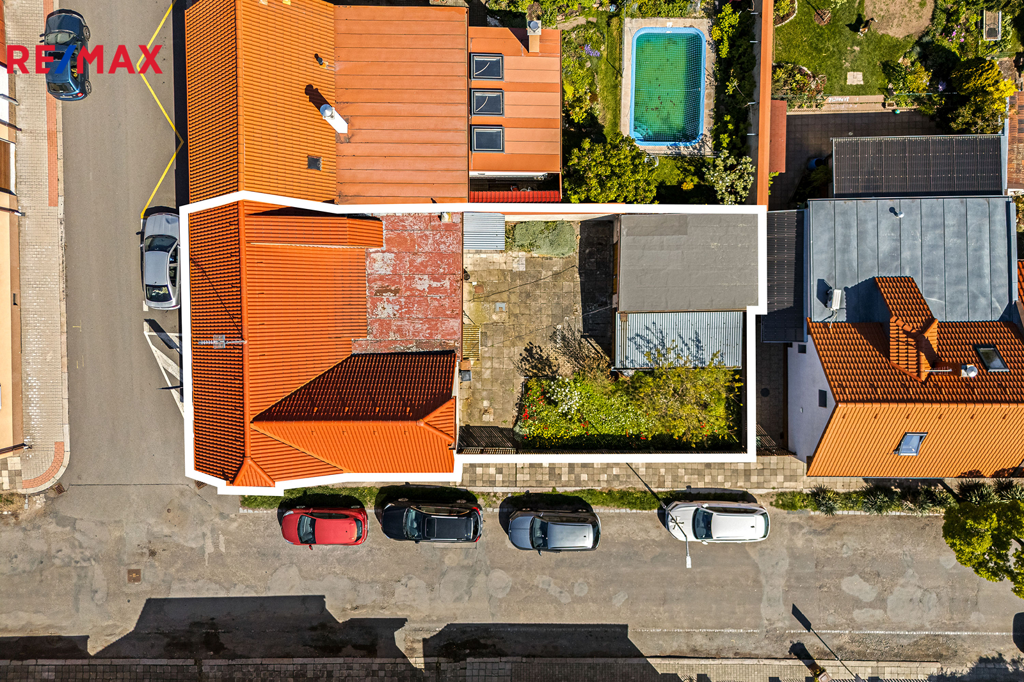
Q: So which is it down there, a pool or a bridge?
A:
pool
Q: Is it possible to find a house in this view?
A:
Yes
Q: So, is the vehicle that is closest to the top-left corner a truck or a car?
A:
car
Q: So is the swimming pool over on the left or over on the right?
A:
right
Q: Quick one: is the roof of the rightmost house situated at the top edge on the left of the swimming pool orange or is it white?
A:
orange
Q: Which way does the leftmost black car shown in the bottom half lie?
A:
horizontally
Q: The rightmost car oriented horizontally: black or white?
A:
white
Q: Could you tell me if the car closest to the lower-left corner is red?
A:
Yes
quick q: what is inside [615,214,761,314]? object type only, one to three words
building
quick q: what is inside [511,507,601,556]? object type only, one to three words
car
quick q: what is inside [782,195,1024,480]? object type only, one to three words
house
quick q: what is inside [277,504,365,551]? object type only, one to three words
car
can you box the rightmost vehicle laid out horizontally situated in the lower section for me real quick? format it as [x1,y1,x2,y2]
[668,499,768,548]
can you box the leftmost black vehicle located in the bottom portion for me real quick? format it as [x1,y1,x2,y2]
[382,499,482,549]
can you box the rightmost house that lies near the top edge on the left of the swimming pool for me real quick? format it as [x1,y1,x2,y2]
[181,0,564,220]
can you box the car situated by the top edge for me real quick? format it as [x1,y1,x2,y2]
[37,13,90,101]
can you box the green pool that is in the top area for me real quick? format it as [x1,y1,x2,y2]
[631,21,707,144]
